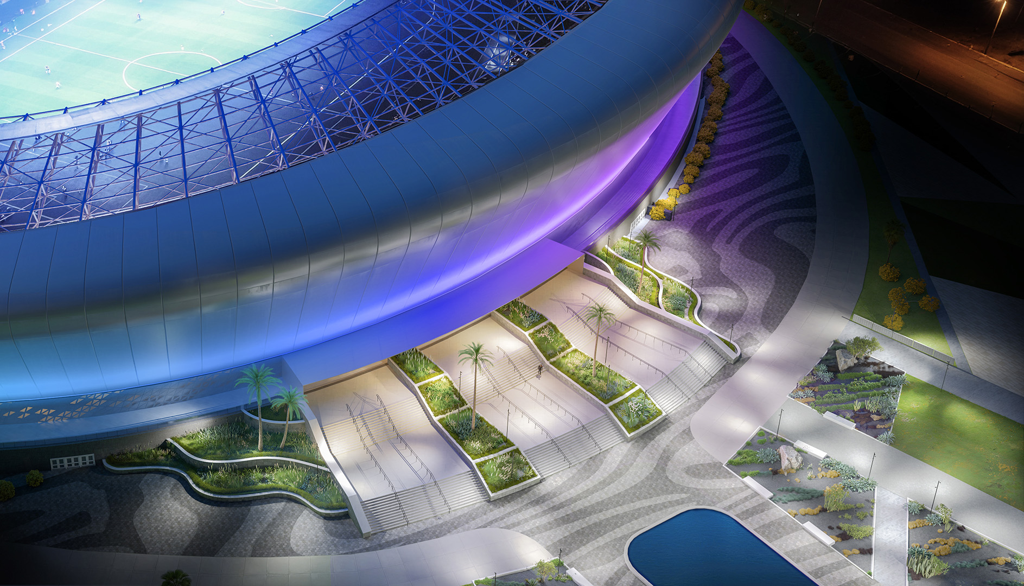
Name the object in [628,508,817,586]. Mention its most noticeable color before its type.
blue swimming pool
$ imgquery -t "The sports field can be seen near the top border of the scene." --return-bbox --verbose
[0,0,365,137]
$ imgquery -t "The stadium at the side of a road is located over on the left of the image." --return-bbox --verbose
[0,0,737,475]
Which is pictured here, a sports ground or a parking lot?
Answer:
sports ground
